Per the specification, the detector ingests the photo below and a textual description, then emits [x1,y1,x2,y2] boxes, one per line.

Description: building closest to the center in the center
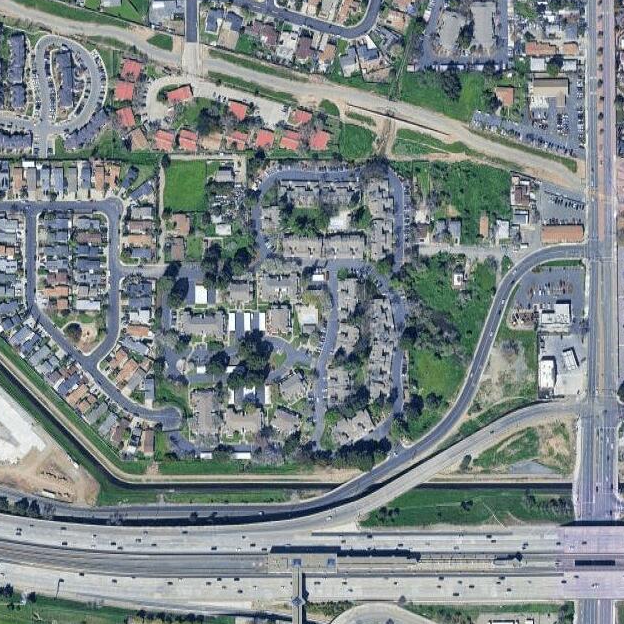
[296,302,318,324]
